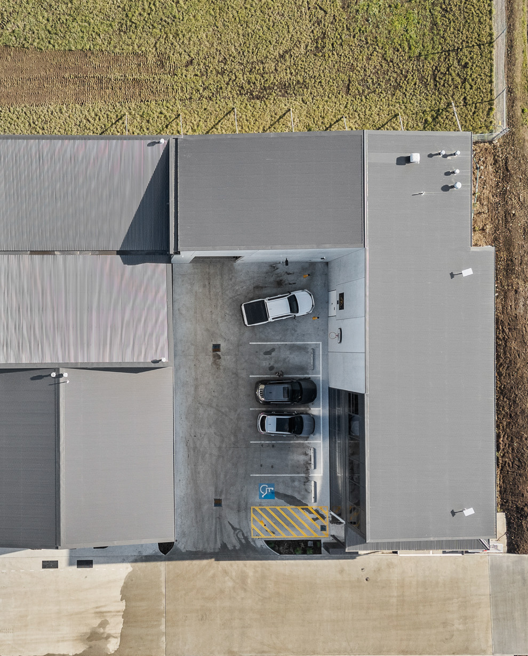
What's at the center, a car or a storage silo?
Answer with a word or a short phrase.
car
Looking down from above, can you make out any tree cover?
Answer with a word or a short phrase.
No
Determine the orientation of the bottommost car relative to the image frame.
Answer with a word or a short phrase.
from side to side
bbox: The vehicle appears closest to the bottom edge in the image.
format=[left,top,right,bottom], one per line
[256,410,315,440]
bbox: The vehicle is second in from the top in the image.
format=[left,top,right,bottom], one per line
[254,377,318,408]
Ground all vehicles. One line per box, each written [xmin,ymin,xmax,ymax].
[254,377,318,408]
[256,410,315,440]
[242,291,317,326]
